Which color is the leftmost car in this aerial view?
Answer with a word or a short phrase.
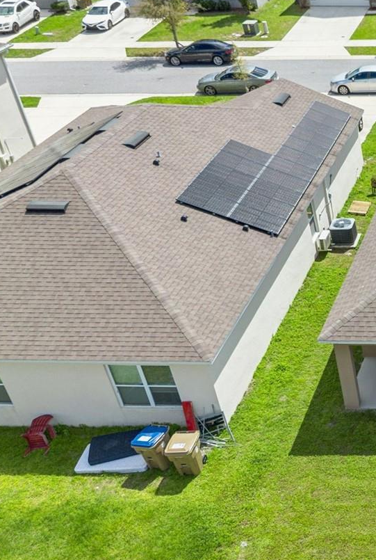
white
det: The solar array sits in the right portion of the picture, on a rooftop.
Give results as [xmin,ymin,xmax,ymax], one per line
[176,99,353,232]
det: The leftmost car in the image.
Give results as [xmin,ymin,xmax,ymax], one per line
[0,0,38,29]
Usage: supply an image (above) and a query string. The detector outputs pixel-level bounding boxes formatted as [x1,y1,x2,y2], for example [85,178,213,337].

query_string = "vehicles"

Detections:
[75,0,124,28]
[331,63,376,91]
[0,0,38,29]
[165,41,242,69]
[201,65,284,92]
